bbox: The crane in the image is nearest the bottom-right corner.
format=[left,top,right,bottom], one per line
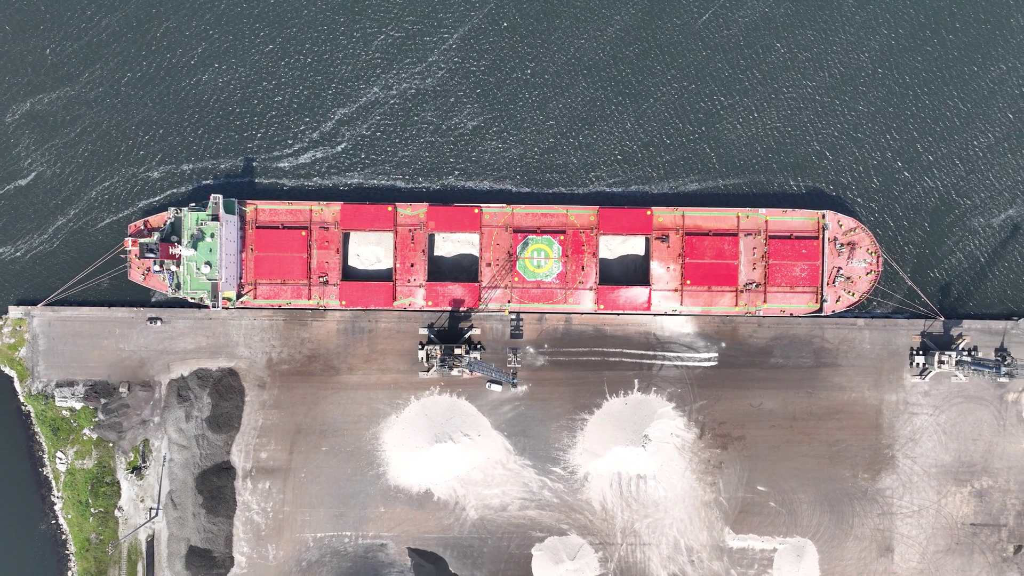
[910,335,1024,382]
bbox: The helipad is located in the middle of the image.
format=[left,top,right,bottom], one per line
[516,235,563,283]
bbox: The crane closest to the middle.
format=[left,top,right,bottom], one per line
[418,328,528,388]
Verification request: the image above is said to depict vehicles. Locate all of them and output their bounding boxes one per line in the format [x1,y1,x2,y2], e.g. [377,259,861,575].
[485,381,503,390]
[146,318,163,326]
